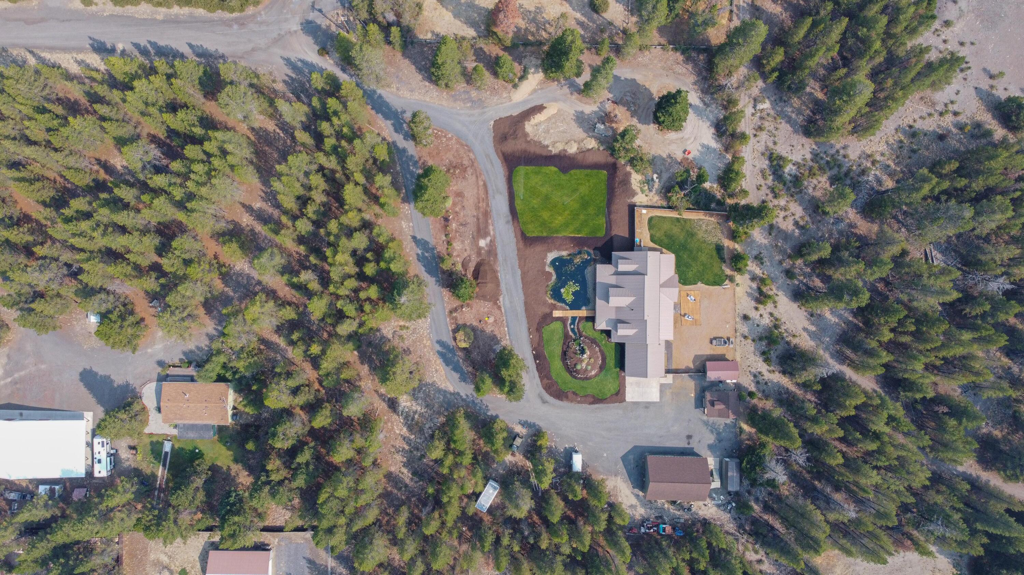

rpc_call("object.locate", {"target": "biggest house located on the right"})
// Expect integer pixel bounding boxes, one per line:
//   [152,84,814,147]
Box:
[596,247,678,378]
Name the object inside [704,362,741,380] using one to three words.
shed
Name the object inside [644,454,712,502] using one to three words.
building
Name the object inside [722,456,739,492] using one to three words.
shed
